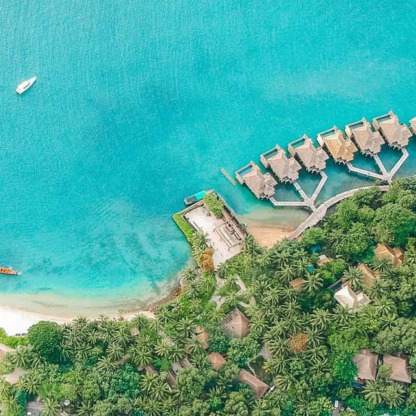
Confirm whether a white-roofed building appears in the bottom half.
Yes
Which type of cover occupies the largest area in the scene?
water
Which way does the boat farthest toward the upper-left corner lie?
diagonally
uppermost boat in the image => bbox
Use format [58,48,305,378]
[14,76,36,97]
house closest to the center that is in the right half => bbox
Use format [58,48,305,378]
[233,164,278,205]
